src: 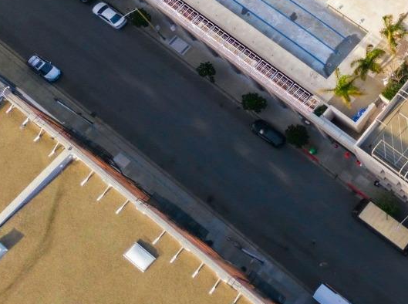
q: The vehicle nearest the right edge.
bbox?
[347,197,408,257]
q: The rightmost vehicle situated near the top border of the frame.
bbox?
[93,4,128,33]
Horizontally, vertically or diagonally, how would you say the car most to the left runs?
diagonally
